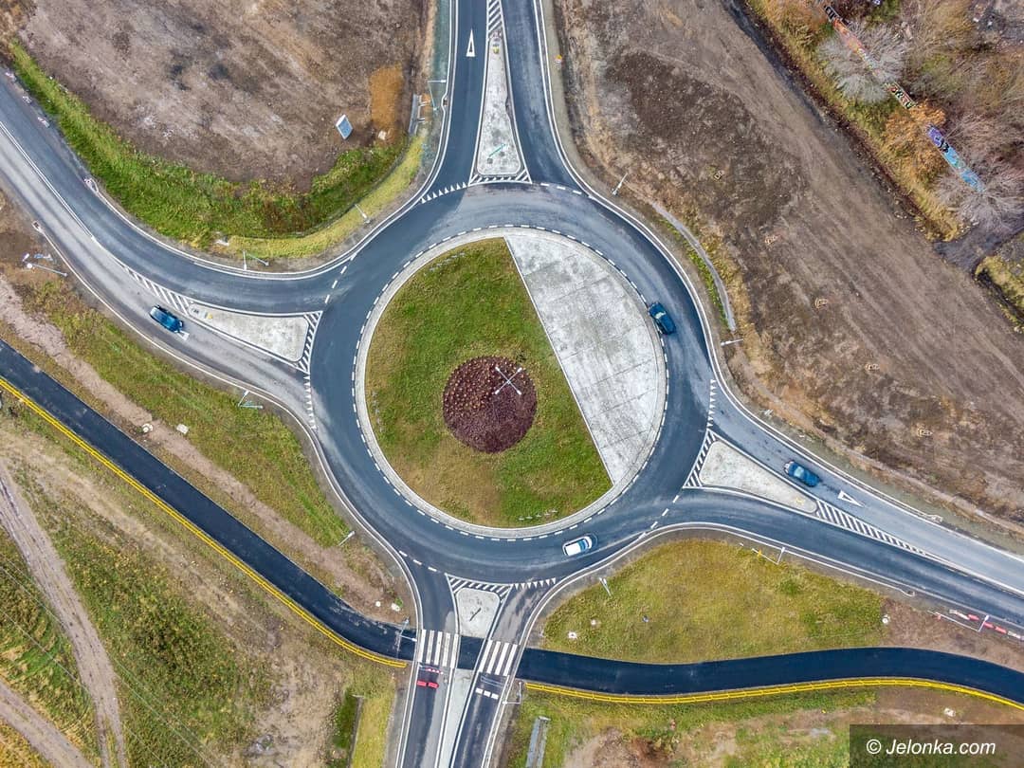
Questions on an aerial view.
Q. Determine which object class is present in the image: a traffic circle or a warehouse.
traffic circle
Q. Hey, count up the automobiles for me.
4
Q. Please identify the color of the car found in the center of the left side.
blue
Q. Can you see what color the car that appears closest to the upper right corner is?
blue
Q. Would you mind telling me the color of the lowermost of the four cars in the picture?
white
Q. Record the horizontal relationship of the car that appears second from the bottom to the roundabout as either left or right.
on its right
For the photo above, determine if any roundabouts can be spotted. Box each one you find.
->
[303,180,718,590]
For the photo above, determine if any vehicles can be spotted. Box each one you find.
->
[648,299,678,337]
[564,535,594,557]
[148,305,184,331]
[784,460,824,488]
